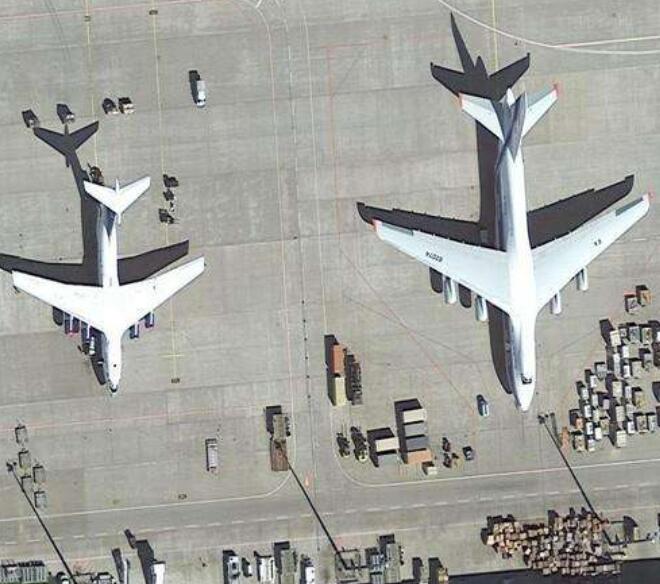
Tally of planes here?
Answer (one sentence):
Altogether the scene contains 2 planes.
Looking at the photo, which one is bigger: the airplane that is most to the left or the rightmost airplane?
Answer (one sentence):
The rightmost airplane is larger than the airplane that is most to the left.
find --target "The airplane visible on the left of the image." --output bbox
[10,174,204,393]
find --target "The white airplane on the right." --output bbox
[374,83,650,411]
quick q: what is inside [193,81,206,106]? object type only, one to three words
vehicle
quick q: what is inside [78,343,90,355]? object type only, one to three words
vehicle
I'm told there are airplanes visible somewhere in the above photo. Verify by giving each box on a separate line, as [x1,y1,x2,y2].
[374,83,650,411]
[10,174,204,393]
